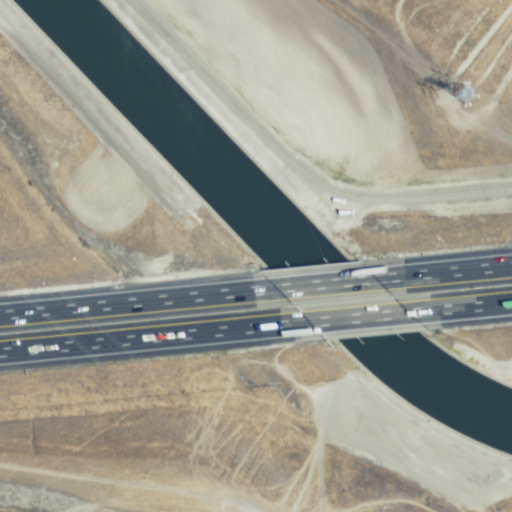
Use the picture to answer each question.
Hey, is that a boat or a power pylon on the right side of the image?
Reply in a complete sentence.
The feature located on the right side of the image is a power pylon.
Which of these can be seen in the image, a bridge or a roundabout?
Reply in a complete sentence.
It is a bridge that can be seen here.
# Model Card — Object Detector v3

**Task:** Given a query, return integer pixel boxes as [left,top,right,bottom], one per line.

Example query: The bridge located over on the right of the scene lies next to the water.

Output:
[257,257,441,345]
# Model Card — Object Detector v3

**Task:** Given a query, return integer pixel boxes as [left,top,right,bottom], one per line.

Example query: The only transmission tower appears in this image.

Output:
[456,77,481,108]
